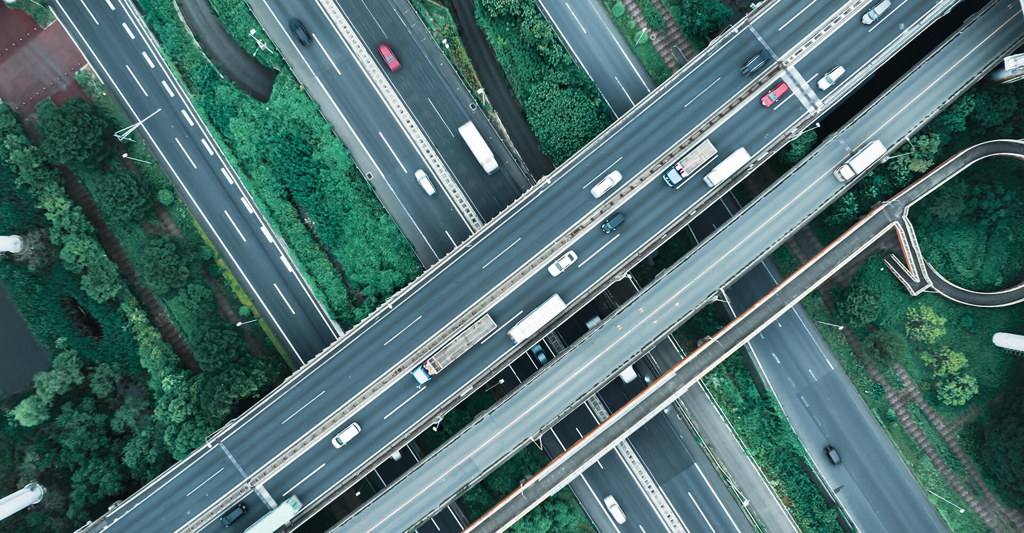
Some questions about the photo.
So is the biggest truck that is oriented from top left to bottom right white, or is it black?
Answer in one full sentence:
In this view, the biggest truck that is oriented from top left to bottom right is white.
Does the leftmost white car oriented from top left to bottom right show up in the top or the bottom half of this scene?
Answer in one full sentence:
The leftmost white car oriented from top left to bottom right sits in the top half of the picture.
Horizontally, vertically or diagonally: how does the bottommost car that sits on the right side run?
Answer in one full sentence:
The bottommost car that sits on the right side has been laid out diagonally relative to the frame.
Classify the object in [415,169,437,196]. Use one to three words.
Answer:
car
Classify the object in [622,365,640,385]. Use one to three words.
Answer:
vehicle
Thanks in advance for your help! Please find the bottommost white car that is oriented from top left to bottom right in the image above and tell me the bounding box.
[605,494,628,524]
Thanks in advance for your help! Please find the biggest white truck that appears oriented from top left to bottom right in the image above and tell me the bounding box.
[456,119,502,178]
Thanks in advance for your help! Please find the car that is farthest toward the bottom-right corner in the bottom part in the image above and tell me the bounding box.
[822,442,843,468]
